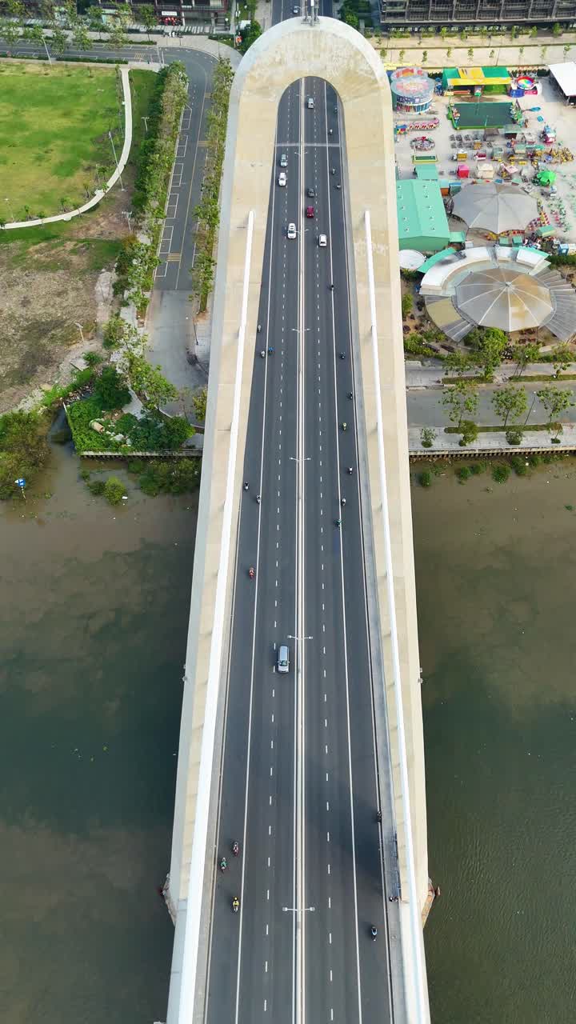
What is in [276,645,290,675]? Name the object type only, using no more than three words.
vehicle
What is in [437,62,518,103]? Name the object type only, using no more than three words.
building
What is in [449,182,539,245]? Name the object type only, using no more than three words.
tent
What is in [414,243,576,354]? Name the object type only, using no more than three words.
building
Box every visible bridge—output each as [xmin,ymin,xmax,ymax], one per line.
[157,0,443,1024]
